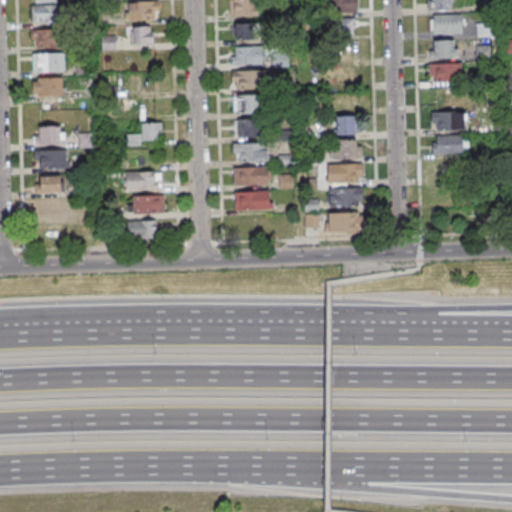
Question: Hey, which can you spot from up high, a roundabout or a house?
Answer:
house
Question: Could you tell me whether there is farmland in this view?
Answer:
No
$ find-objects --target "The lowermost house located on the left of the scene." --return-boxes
[128,220,157,241]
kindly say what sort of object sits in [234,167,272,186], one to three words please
house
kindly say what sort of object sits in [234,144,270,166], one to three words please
house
